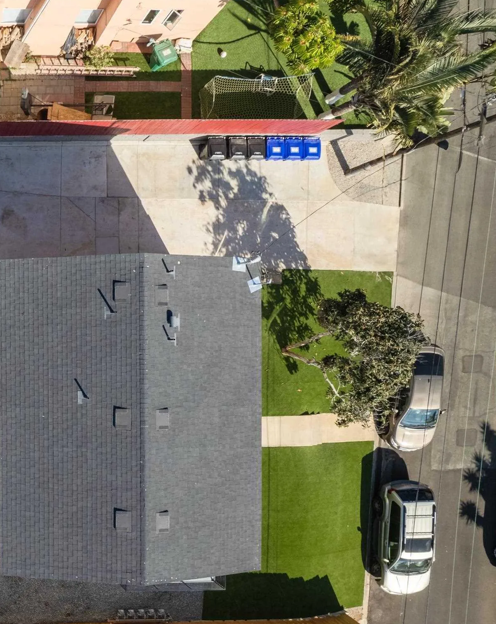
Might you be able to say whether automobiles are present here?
Yes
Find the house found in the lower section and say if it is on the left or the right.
left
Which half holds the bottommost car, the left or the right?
right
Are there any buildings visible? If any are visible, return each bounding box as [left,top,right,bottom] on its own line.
[0,253,262,586]
[0,0,229,57]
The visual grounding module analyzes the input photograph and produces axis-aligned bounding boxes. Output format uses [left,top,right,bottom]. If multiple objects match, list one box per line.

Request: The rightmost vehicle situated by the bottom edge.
[365,478,433,595]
